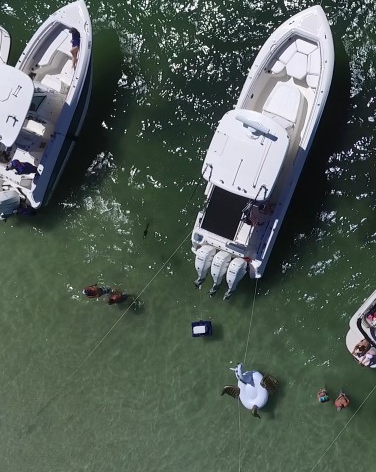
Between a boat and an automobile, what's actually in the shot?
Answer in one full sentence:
The one in the frame is a boat.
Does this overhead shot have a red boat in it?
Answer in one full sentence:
No, there's no red boat here.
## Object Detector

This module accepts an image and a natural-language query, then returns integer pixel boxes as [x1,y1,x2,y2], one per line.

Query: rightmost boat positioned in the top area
[184,5,335,301]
